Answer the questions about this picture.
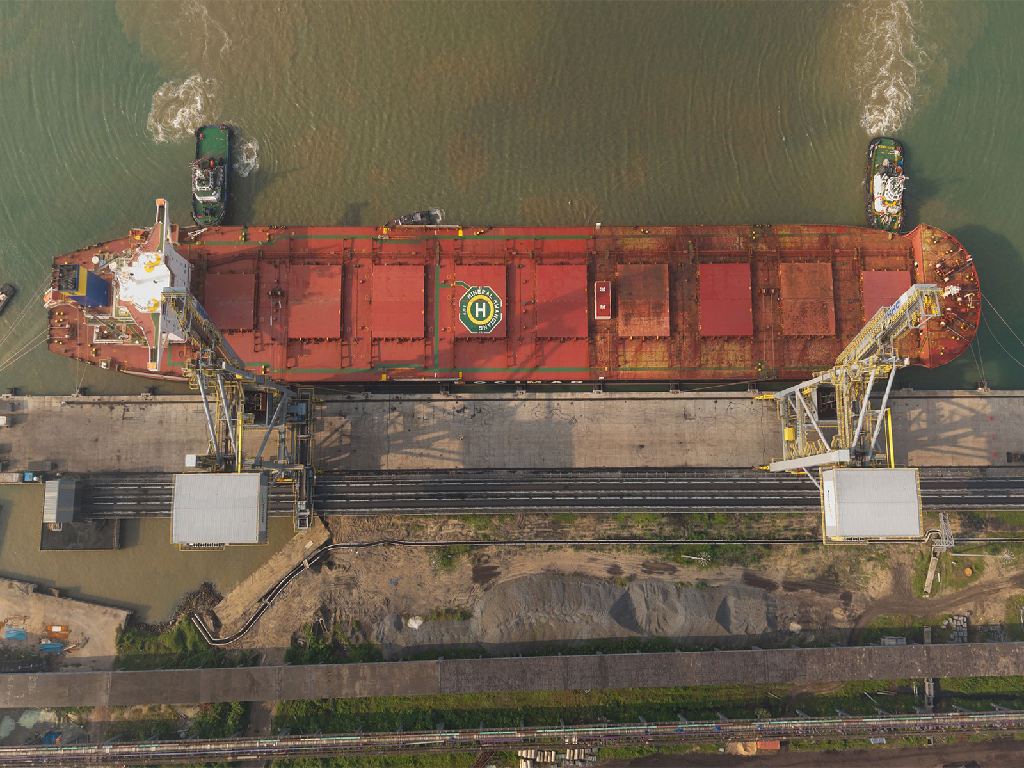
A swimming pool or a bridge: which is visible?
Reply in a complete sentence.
The image shows a bridge.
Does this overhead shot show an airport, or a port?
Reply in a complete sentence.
What you see here is a port.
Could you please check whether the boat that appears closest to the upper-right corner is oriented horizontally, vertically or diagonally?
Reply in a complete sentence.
The boat that appears closest to the upper-right corner runs vertically in the image.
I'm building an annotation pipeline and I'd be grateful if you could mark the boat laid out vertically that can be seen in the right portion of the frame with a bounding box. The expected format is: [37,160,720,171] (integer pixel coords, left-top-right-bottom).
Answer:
[866,135,910,231]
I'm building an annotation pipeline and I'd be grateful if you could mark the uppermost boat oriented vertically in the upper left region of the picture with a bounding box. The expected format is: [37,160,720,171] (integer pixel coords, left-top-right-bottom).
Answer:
[192,125,232,226]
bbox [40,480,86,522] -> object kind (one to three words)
shed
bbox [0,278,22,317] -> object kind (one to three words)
boat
